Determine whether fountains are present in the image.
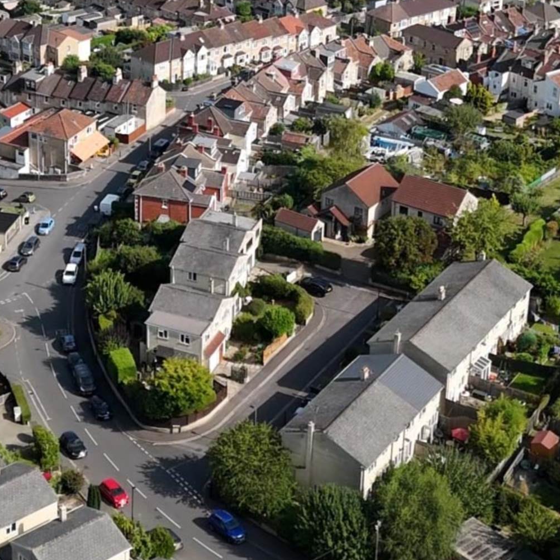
No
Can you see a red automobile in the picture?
Yes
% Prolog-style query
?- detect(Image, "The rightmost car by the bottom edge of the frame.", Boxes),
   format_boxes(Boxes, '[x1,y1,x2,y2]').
[209,505,245,540]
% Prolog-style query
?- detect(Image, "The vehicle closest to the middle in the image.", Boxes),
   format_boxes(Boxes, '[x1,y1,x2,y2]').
[302,276,333,294]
